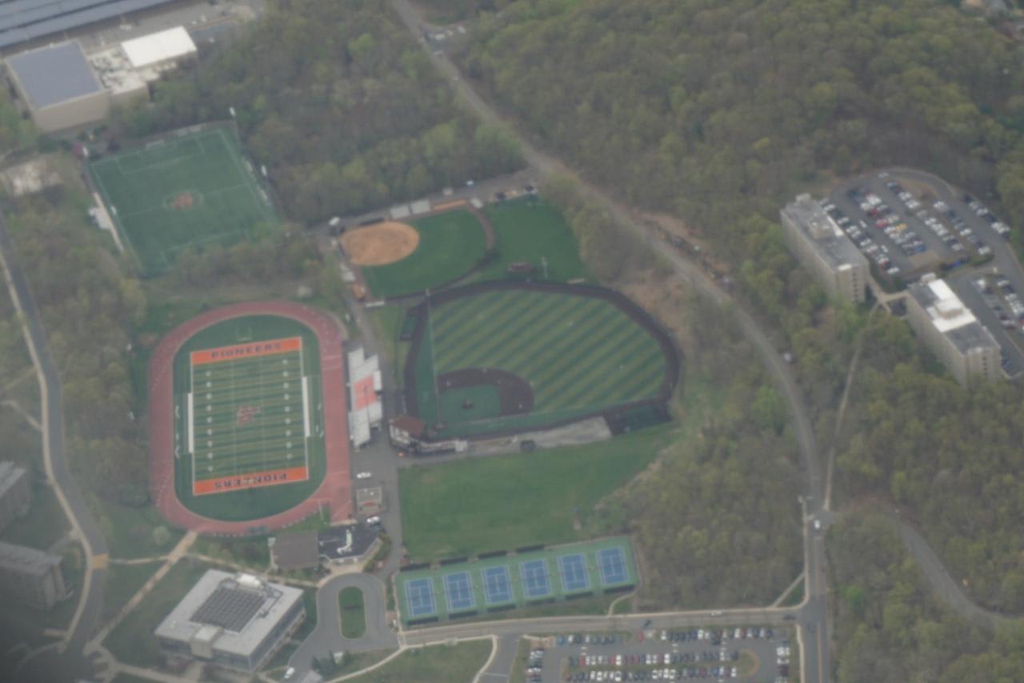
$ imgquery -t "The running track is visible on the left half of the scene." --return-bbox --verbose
[150,300,358,538]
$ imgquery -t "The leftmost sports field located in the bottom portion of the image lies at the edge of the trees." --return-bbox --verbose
[175,315,326,522]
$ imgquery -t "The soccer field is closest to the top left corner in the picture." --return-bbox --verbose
[87,121,284,275]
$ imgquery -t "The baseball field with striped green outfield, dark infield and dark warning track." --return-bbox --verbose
[405,280,680,443]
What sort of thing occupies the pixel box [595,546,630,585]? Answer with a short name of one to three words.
tennis court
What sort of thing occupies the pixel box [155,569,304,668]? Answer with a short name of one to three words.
building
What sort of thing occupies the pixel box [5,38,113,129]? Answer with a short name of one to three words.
building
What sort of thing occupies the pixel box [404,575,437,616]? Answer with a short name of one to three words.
tennis court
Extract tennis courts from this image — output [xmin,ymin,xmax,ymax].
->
[442,569,475,610]
[481,564,514,603]
[404,575,437,616]
[519,558,553,597]
[595,546,630,585]
[557,552,591,591]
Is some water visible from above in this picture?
No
